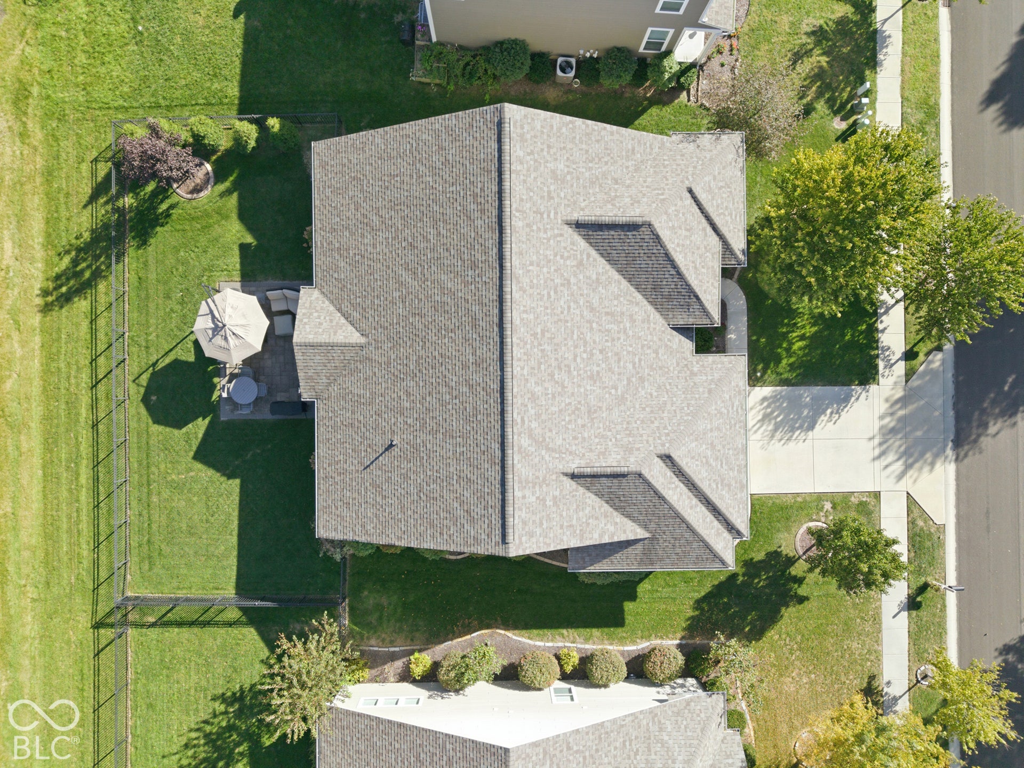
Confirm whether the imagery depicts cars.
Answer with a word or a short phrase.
No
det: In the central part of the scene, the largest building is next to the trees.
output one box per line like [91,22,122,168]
[294,105,751,573]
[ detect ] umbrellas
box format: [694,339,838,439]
[194,283,269,364]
